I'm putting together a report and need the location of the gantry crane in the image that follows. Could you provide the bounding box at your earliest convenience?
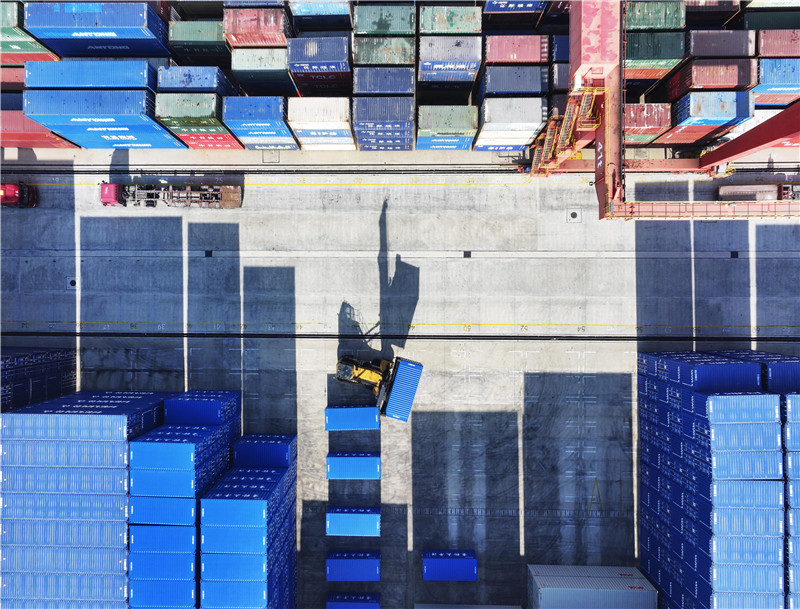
[498,0,800,222]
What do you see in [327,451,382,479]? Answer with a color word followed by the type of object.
blue shipping container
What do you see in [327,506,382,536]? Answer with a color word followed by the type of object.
blue shipping container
